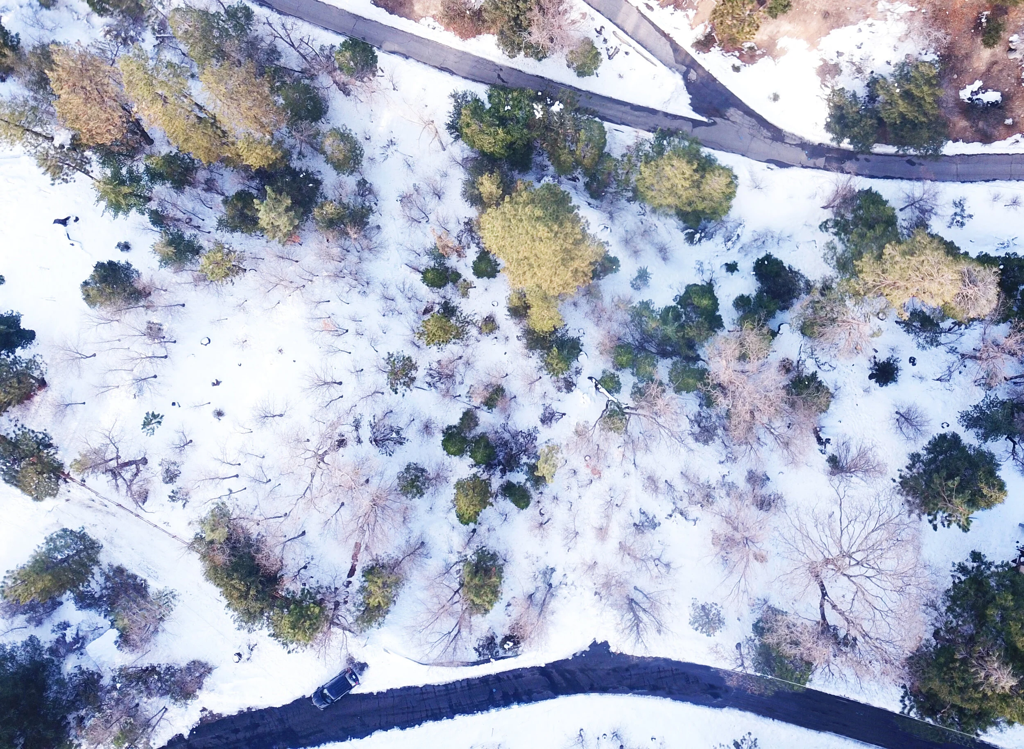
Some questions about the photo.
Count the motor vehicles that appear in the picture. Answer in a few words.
1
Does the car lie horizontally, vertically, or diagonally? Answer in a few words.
diagonally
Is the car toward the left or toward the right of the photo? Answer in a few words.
left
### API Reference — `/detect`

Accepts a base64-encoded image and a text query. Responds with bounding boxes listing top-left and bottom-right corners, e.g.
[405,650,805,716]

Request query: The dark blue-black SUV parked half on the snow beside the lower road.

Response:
[311,667,361,709]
